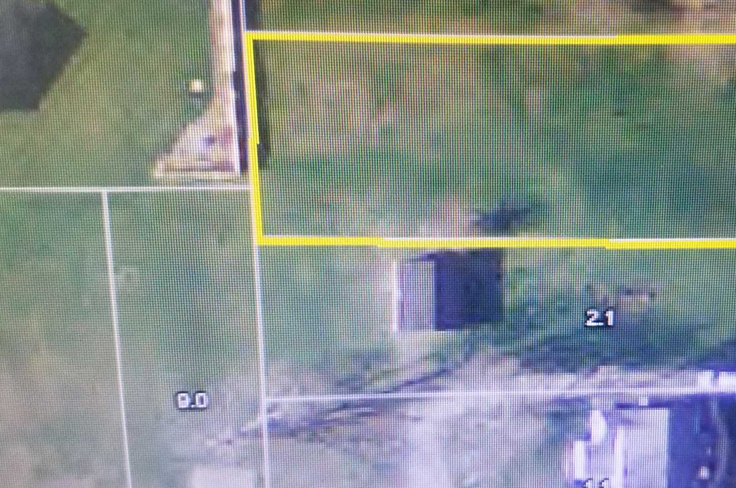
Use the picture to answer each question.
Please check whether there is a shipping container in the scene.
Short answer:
No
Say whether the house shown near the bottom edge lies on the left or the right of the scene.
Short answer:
right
